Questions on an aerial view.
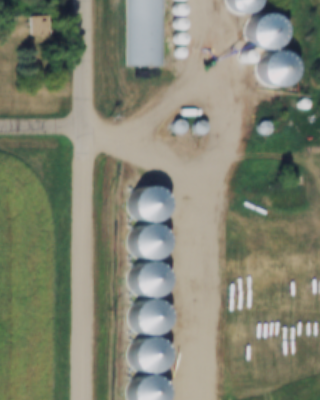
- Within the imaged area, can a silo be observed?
Yes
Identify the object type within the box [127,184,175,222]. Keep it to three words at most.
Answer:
silo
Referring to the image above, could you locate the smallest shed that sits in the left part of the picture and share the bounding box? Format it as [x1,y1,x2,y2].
[28,16,53,36]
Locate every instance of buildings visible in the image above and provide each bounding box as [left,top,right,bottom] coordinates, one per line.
[28,16,53,36]
[122,0,164,66]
